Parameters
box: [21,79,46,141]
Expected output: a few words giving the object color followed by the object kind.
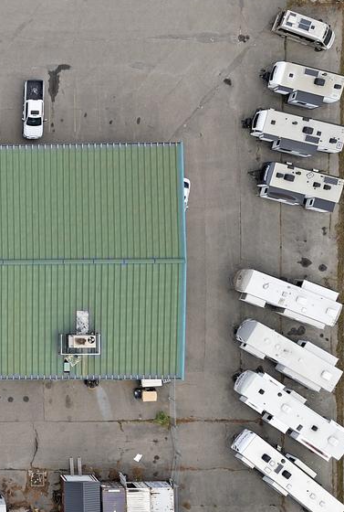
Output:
white truck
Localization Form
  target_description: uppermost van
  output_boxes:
[267,11,331,53]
